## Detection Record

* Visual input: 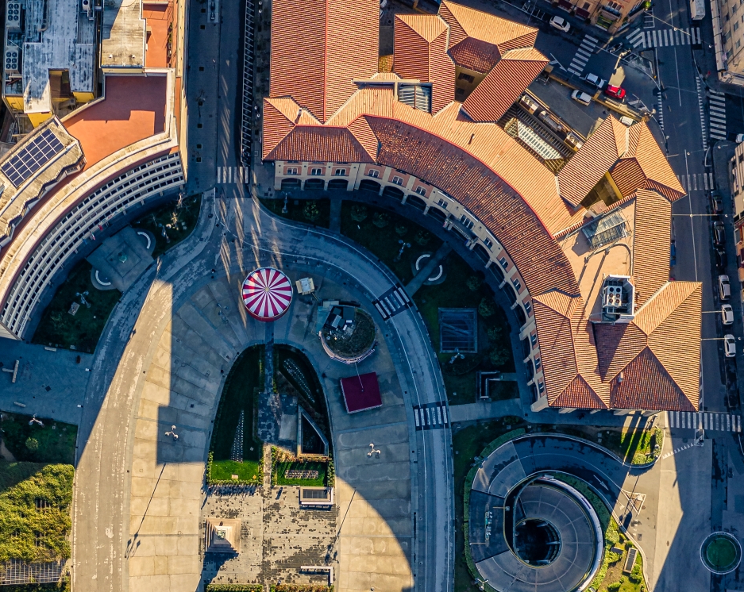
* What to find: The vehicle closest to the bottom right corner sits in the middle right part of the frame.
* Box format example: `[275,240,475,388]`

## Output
[724,331,738,358]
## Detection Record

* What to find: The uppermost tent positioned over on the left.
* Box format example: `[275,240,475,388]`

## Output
[241,270,292,322]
